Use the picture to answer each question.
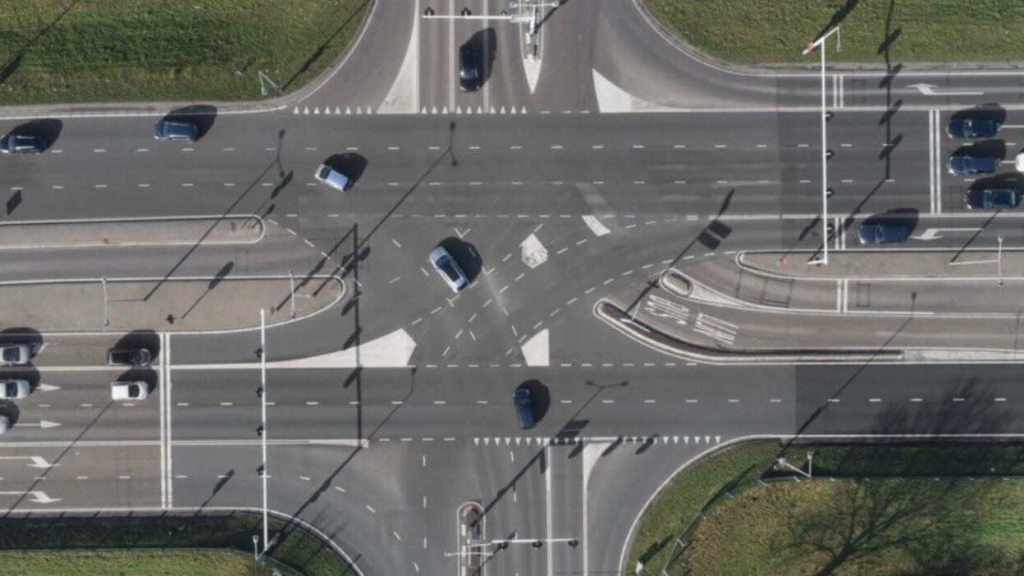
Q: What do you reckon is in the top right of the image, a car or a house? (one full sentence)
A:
The one visible in the top right of the image is a car.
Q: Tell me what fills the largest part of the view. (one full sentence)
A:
The largest share of the image is taken up by paved ground.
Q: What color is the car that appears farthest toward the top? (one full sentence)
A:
The car that appears farthest toward the top is black.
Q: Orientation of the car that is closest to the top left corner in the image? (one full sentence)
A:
The car that is closest to the top left corner runs horizontally in the image.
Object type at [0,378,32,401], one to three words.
car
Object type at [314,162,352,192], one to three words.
car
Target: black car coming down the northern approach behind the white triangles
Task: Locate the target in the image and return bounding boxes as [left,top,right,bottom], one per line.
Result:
[458,45,481,91]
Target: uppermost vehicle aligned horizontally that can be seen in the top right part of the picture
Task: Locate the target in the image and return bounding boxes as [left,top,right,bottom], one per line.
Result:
[945,116,999,139]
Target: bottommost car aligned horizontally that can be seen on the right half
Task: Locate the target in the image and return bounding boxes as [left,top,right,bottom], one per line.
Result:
[856,221,908,245]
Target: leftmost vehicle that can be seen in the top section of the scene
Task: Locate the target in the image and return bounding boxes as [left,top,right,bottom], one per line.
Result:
[2,131,48,154]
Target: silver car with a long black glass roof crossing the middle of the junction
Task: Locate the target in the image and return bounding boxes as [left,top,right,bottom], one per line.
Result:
[428,246,470,293]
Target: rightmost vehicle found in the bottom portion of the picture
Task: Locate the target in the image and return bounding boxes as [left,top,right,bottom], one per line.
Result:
[512,386,536,429]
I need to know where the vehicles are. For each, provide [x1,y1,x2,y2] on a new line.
[946,152,999,176]
[314,162,352,192]
[964,187,1021,211]
[109,380,151,401]
[0,343,33,366]
[856,221,908,245]
[1013,153,1024,173]
[0,378,32,401]
[512,386,536,429]
[109,345,153,367]
[2,131,48,154]
[154,119,199,142]
[945,116,999,139]
[428,246,470,293]
[458,45,481,91]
